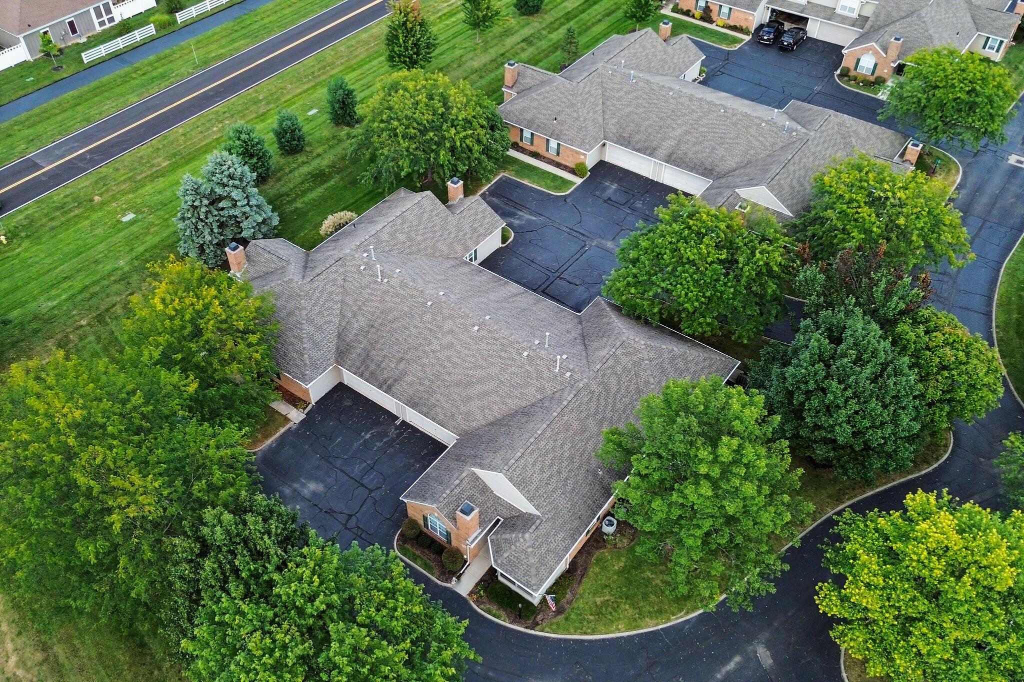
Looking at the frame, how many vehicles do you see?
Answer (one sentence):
Altogether the scene contains 2 vehicles.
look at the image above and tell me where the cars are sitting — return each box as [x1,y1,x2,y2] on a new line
[760,21,787,41]
[779,26,808,47]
